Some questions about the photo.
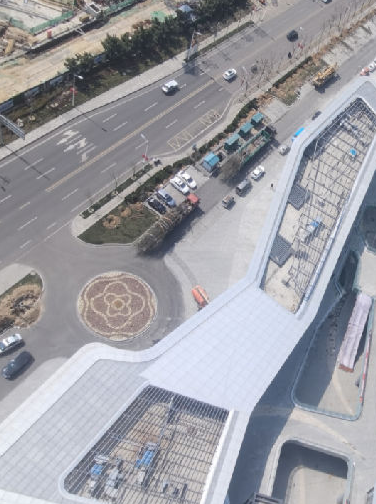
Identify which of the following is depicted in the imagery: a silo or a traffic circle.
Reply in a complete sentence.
It is a traffic circle that can be seen here.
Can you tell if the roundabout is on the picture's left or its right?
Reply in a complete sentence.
The roundabout is on the left side of the image.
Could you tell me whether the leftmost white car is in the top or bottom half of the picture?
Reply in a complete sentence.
It is in the bottom half that the leftmost white car appears.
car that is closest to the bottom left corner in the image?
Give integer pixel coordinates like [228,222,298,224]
[0,352,35,377]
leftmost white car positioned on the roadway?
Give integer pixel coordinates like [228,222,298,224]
[0,333,25,354]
